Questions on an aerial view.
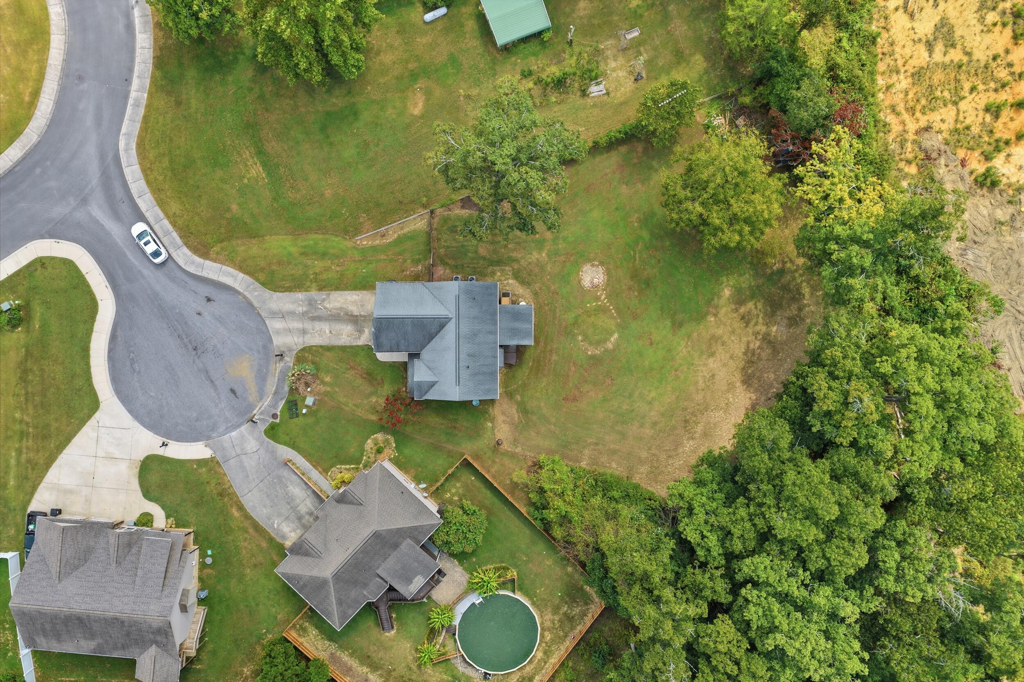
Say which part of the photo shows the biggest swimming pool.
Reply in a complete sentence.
The biggest swimming pool sits in the bottom section of the image.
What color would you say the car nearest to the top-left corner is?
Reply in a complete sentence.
The car nearest to the top-left corner looks white in the image.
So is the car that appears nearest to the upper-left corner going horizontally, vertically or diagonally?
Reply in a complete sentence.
Seen from above, the car that appears nearest to the upper-left corner lies diagonally.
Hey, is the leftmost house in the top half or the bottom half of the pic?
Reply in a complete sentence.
The leftmost house sits in the bottom half of the picture.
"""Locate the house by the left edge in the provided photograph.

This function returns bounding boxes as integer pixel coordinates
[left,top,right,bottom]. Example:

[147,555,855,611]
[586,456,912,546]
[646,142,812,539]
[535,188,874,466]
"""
[9,514,216,682]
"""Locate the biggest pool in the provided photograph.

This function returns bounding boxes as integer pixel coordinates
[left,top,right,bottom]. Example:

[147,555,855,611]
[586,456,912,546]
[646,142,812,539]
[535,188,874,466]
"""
[451,586,539,673]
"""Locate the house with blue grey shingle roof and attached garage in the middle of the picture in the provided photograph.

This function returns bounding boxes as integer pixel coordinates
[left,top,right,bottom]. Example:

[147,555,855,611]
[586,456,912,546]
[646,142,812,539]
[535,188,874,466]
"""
[373,281,534,401]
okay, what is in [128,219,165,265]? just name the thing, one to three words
car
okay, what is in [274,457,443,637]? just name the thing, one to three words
house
